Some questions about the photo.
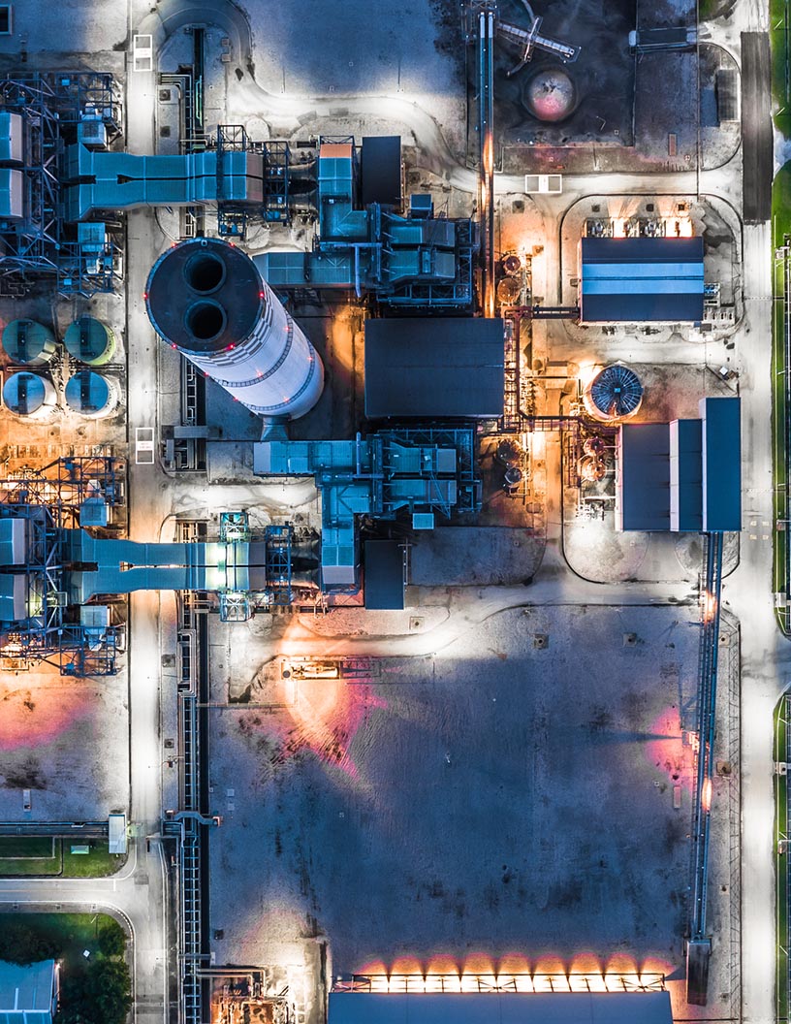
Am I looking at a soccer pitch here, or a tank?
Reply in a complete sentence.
It is a tank that can be seen here.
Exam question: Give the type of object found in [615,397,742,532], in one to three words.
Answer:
building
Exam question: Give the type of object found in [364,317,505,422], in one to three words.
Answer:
building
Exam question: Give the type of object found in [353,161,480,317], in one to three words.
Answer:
house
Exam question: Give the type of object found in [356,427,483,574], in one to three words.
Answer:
house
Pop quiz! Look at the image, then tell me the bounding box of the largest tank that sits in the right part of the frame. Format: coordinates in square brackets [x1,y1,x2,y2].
[583,363,647,424]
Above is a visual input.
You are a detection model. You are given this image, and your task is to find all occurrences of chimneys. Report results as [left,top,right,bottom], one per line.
[142,229,325,423]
